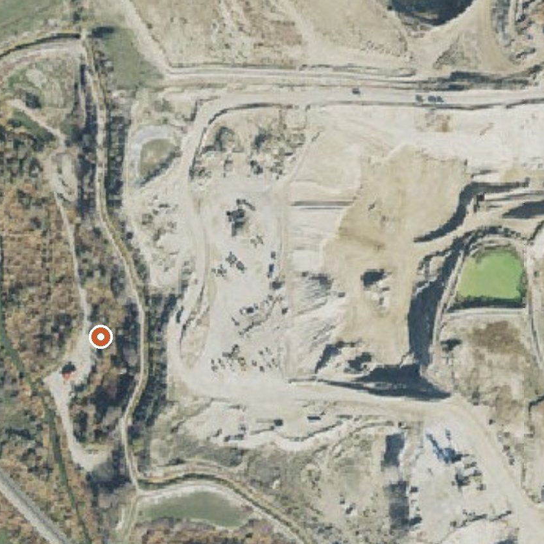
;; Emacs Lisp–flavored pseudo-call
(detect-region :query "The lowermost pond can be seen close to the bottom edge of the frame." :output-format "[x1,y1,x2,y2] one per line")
[137,490,249,526]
